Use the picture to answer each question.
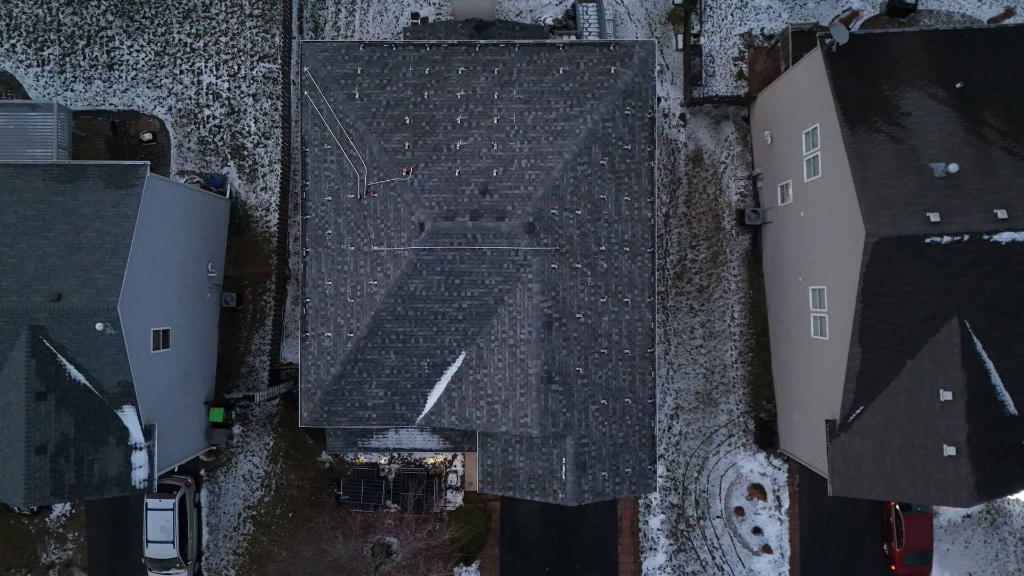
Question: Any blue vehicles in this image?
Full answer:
No, I can see no blue vehicle in this picture.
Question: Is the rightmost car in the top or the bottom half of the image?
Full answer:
The rightmost car is in the bottom half of the image.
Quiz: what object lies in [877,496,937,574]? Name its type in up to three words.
car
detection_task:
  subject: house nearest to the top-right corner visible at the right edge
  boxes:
[748,28,1024,503]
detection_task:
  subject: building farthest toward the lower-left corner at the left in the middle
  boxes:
[0,157,233,507]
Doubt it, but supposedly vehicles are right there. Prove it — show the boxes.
[877,496,937,574]
[142,472,202,576]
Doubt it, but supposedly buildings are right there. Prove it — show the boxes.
[0,157,233,507]
[748,28,1024,503]
[301,40,656,507]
